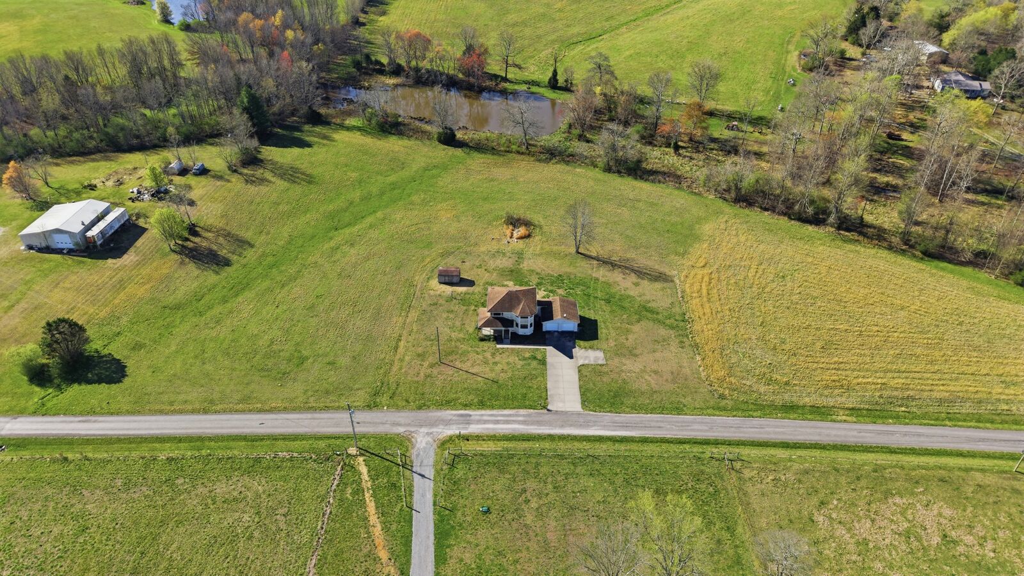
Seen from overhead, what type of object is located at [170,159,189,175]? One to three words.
camper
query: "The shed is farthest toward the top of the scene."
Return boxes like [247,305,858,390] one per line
[909,43,957,64]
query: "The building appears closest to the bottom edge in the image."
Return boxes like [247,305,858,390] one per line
[478,287,581,345]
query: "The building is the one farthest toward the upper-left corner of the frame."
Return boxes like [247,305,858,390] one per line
[17,197,113,248]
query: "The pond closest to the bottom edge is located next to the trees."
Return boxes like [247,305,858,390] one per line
[328,87,567,135]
